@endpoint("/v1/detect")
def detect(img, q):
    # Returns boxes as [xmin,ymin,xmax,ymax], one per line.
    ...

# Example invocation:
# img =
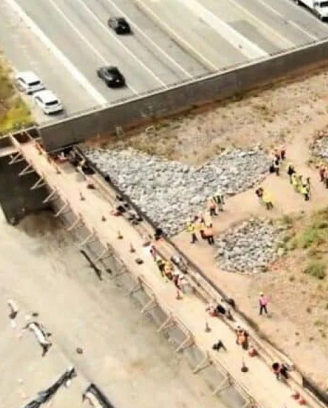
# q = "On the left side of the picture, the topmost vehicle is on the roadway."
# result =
[106,15,131,34]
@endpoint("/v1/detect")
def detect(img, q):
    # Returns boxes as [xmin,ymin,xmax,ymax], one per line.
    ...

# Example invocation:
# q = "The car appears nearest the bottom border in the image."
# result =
[33,87,62,113]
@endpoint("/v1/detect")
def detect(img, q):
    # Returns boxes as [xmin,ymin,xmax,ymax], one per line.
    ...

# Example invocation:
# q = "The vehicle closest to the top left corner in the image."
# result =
[12,66,40,91]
